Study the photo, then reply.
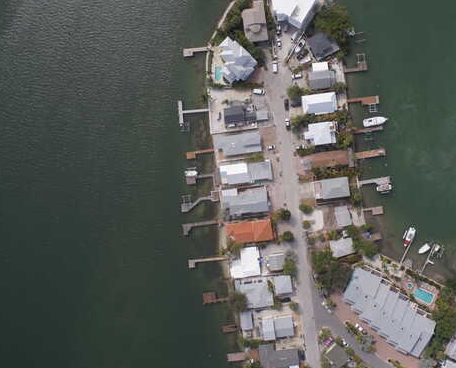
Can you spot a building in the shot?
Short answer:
Yes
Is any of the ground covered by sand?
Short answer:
No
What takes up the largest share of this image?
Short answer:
water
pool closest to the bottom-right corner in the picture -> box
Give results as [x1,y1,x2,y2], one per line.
[413,284,435,307]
